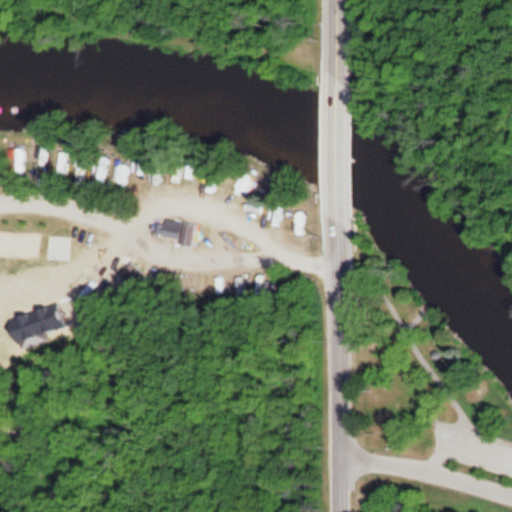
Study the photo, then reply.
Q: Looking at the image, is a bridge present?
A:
Yes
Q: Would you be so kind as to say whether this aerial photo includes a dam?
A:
No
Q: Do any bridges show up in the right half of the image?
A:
Yes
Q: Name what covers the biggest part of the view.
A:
trees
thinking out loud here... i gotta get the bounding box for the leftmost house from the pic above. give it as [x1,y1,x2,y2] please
[7,306,70,353]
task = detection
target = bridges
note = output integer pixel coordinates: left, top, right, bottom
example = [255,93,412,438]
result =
[315,76,357,233]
